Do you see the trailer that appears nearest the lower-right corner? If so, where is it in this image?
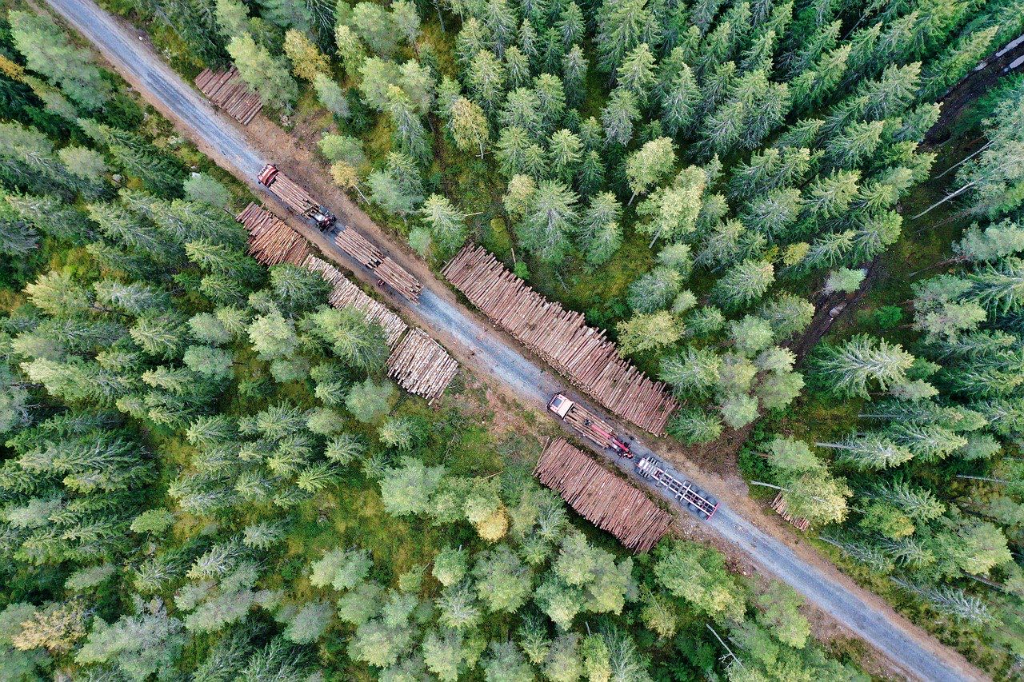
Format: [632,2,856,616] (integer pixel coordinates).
[630,457,726,526]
